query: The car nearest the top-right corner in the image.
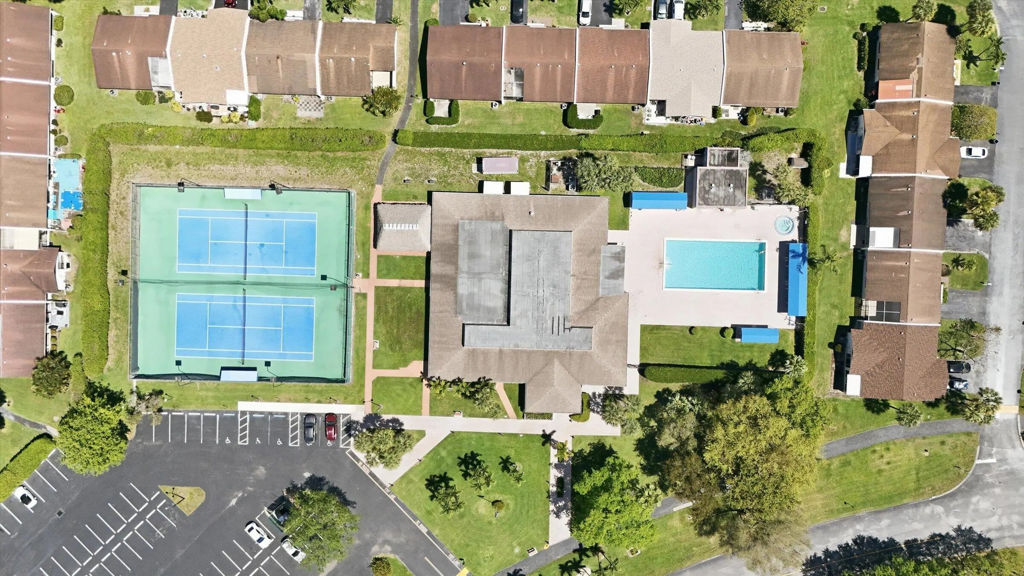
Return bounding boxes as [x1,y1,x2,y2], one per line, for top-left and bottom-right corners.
[960,145,988,159]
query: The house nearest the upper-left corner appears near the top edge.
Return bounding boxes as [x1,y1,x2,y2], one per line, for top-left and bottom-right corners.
[0,2,65,90]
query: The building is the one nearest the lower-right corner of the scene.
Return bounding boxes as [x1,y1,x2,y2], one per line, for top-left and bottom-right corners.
[839,323,957,400]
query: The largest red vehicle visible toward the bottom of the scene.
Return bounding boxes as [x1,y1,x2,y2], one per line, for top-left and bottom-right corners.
[323,412,338,442]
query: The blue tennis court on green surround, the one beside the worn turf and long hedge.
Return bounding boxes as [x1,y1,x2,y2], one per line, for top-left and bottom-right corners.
[141,186,353,287]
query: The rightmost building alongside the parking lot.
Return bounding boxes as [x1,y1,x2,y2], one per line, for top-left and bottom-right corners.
[428,192,628,413]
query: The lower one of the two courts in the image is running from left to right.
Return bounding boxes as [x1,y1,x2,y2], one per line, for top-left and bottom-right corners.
[139,282,353,380]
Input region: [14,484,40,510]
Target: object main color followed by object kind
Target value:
white car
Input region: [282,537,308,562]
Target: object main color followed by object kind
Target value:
white car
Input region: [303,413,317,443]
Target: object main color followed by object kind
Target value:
gray car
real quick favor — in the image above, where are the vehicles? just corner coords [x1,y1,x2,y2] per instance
[225,0,238,9]
[303,413,317,443]
[655,0,669,20]
[947,377,969,390]
[579,0,593,27]
[14,484,40,510]
[282,537,308,562]
[672,0,686,20]
[960,145,988,159]
[323,412,338,442]
[245,521,273,548]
